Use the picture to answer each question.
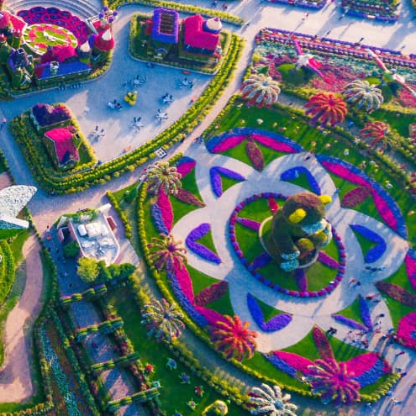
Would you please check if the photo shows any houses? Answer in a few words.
Yes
